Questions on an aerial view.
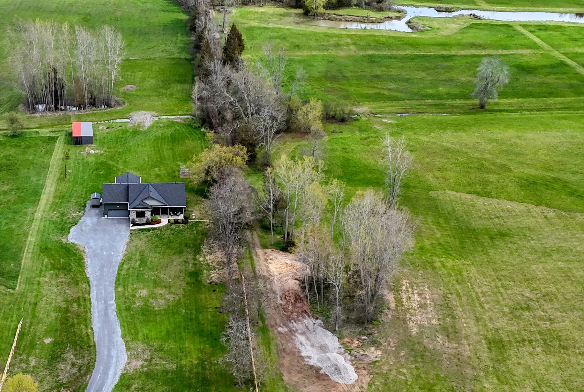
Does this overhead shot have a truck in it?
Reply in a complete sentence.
No, the scene contains no truck.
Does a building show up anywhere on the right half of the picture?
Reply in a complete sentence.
No, I see no building on the right half of the picture.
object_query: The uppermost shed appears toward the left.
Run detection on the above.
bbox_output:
[72,122,94,144]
